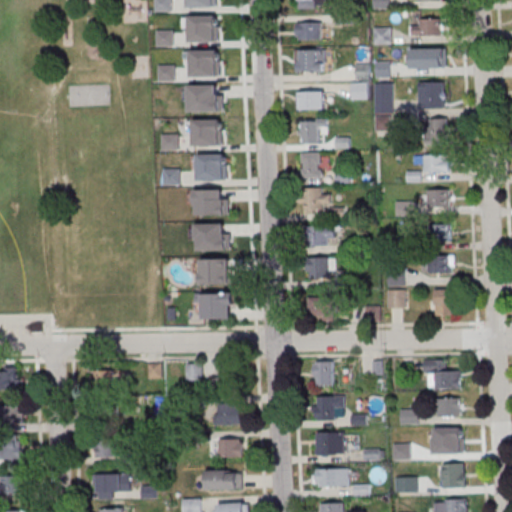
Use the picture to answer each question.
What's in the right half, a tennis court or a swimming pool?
swimming pool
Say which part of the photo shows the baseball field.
left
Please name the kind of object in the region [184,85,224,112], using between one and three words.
house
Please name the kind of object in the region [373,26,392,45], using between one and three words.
building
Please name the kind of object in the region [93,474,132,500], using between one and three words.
house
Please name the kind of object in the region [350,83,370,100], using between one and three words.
building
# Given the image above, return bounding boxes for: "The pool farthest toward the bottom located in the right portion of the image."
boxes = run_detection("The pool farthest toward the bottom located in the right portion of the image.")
[368,466,388,486]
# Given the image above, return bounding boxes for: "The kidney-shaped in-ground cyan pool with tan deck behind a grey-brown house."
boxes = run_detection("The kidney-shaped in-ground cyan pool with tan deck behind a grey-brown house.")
[168,259,196,288]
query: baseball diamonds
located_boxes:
[0,213,27,312]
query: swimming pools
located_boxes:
[368,398,384,414]
[390,12,402,26]
[368,466,388,486]
[168,259,196,288]
[391,48,402,60]
[356,46,368,60]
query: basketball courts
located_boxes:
[67,85,110,108]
